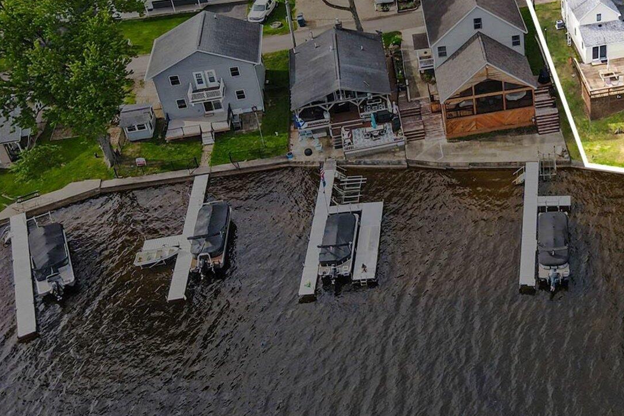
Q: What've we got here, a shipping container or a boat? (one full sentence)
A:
I can see a boat in this picture.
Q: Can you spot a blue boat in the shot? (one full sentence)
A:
No, there's no blue boat here.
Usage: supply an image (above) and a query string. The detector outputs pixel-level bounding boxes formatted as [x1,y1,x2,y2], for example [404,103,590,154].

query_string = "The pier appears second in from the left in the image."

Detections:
[141,173,211,306]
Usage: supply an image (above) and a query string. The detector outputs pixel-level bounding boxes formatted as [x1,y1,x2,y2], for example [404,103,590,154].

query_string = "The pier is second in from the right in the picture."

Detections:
[297,163,384,298]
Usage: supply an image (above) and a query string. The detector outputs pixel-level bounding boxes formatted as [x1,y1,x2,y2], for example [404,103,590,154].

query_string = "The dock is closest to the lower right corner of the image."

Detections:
[518,164,571,291]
